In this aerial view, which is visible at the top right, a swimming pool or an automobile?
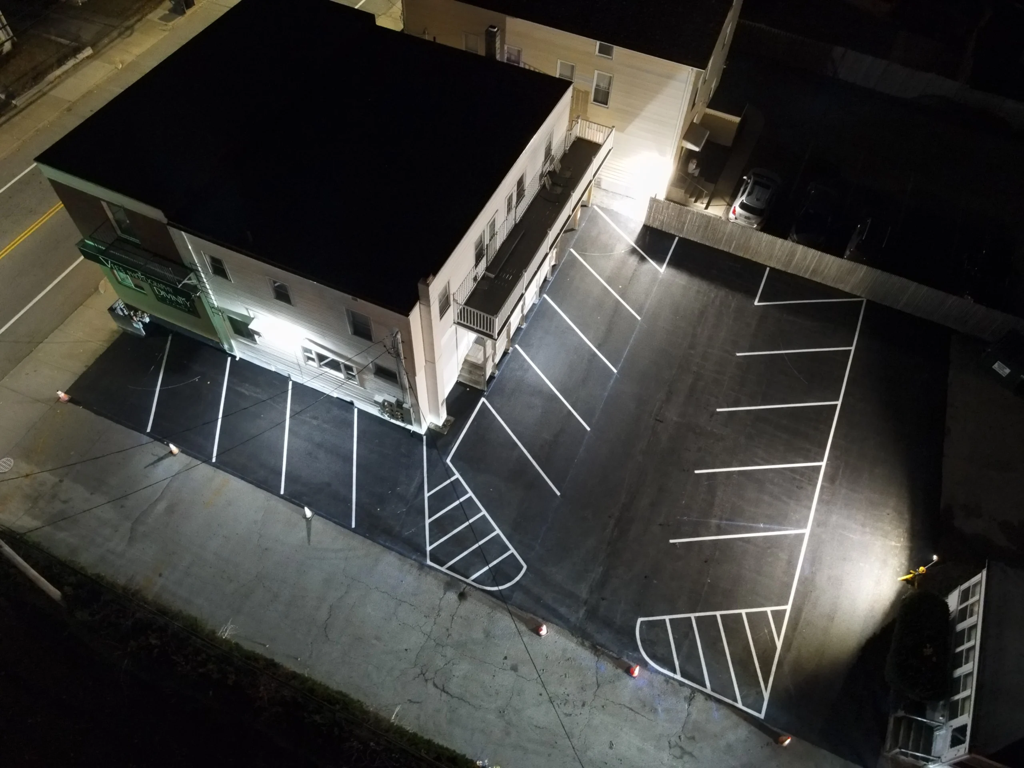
automobile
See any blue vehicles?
No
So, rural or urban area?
urban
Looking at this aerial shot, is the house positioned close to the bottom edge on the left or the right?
right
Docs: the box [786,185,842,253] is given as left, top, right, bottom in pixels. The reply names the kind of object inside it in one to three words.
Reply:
car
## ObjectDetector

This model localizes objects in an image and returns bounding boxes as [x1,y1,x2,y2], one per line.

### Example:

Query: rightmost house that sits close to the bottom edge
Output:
[878,554,1024,768]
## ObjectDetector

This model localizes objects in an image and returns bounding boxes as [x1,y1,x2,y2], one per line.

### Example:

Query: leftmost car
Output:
[727,163,782,230]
